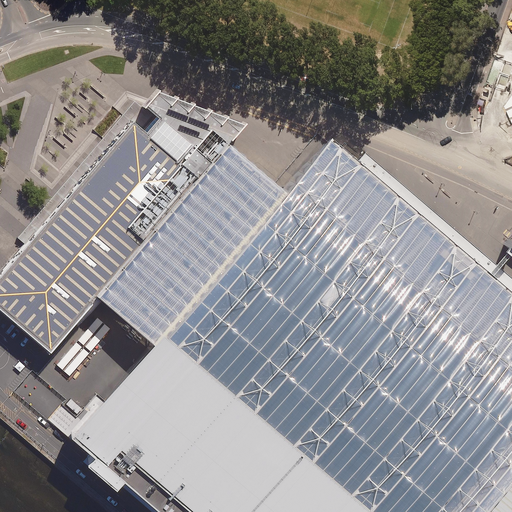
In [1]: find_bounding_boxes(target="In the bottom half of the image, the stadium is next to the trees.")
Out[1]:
[48,138,512,512]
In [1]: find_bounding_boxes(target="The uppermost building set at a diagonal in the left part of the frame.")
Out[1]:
[0,122,232,354]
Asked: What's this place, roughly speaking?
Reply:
sports ground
